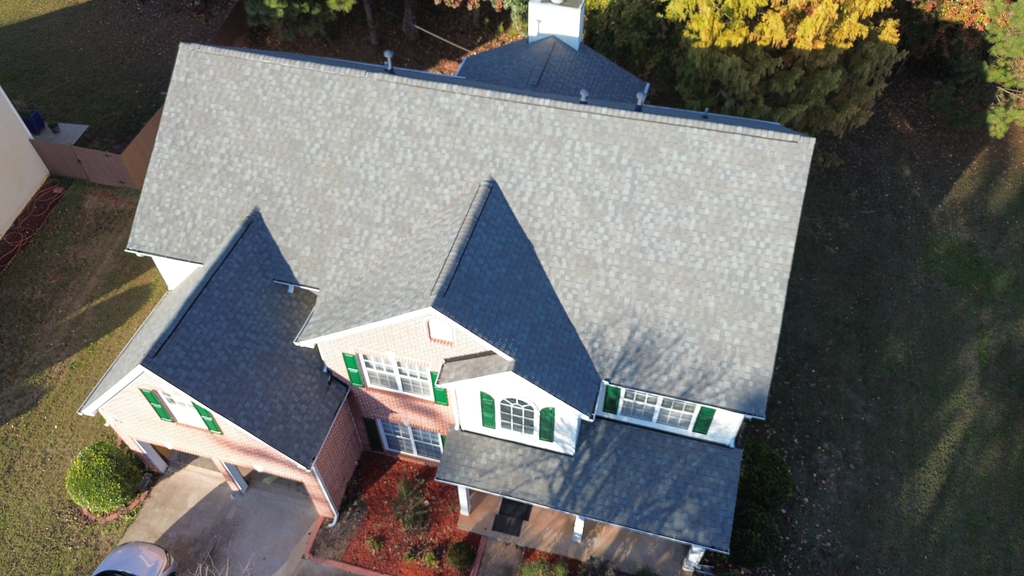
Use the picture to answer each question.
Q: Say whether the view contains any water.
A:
No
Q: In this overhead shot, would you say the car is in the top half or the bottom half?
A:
bottom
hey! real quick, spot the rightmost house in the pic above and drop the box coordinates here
[78,0,817,576]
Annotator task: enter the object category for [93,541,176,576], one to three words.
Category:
car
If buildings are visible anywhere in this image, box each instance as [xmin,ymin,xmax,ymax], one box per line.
[0,91,49,244]
[78,0,817,576]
